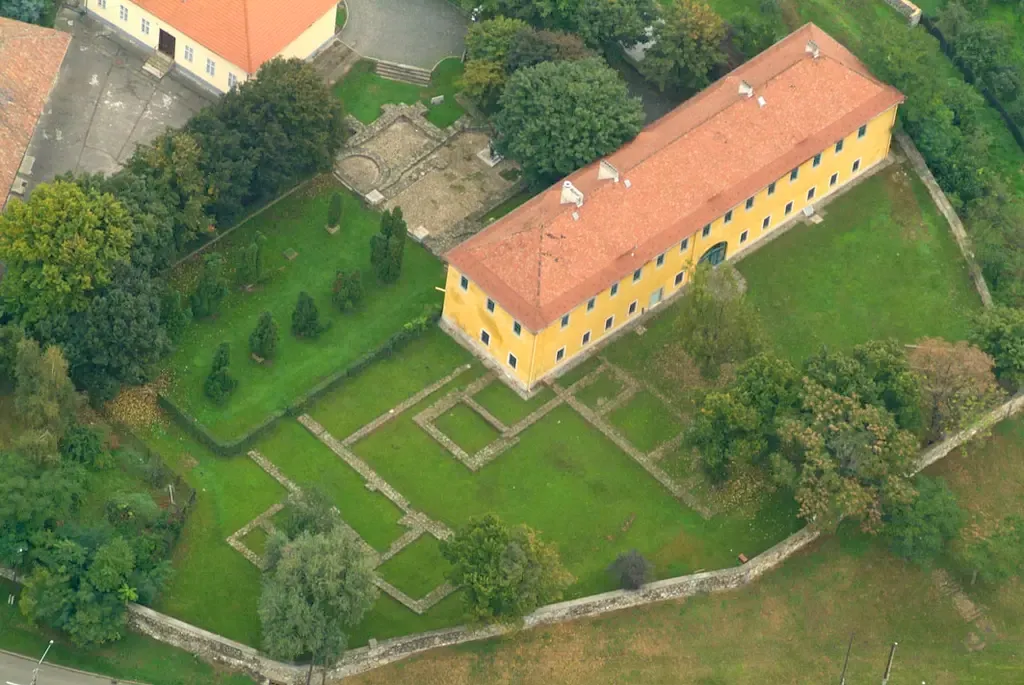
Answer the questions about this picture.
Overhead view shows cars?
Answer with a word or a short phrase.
No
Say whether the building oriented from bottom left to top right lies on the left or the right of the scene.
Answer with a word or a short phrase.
right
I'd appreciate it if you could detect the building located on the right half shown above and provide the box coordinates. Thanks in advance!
[436,22,907,389]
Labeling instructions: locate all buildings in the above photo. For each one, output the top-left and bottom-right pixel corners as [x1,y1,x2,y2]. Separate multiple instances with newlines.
[436,22,907,389]
[0,17,71,219]
[83,0,351,100]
